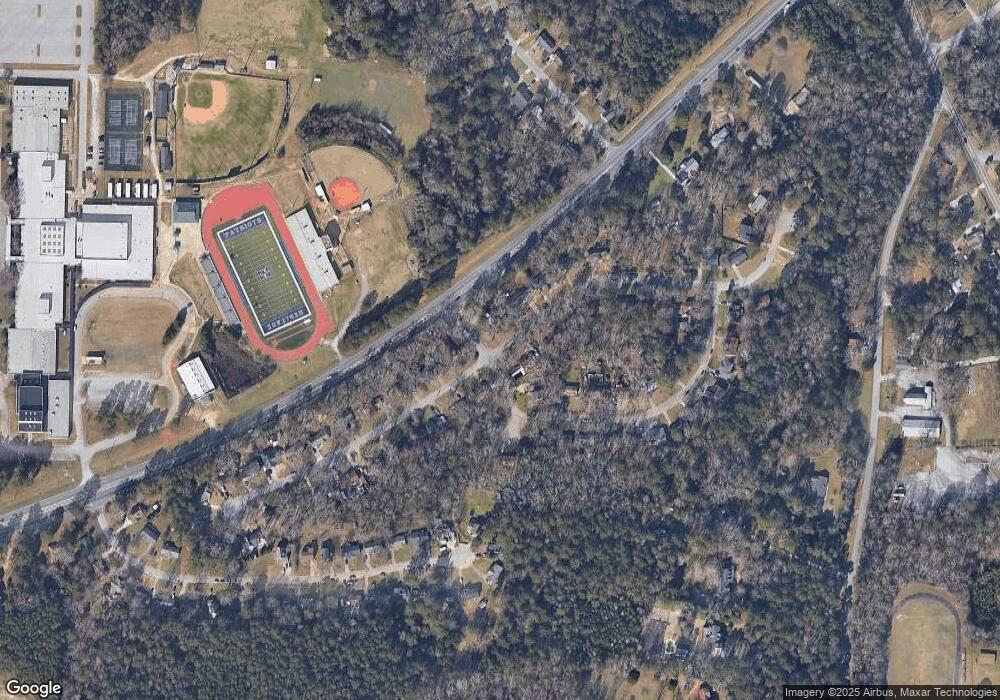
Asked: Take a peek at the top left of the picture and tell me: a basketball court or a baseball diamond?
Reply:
baseball diamond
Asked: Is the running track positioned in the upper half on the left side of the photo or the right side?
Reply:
left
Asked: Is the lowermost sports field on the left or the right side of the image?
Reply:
right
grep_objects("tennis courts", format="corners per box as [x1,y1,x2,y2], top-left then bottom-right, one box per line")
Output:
[110,100,121,125]
[109,139,120,164]
[126,100,137,125]
[125,139,138,164]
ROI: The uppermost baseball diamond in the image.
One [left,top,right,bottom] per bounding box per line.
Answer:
[176,72,287,179]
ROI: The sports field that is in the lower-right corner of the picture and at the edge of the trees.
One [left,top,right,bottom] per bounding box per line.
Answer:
[896,597,956,700]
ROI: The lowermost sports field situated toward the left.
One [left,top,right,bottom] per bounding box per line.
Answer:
[209,204,317,346]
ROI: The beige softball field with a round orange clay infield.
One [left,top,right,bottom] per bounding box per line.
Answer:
[311,145,394,213]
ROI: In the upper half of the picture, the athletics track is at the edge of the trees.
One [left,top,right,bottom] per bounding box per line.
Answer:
[202,182,334,361]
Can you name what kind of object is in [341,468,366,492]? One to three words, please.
house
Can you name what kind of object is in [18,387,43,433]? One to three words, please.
building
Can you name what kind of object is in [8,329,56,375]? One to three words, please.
building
